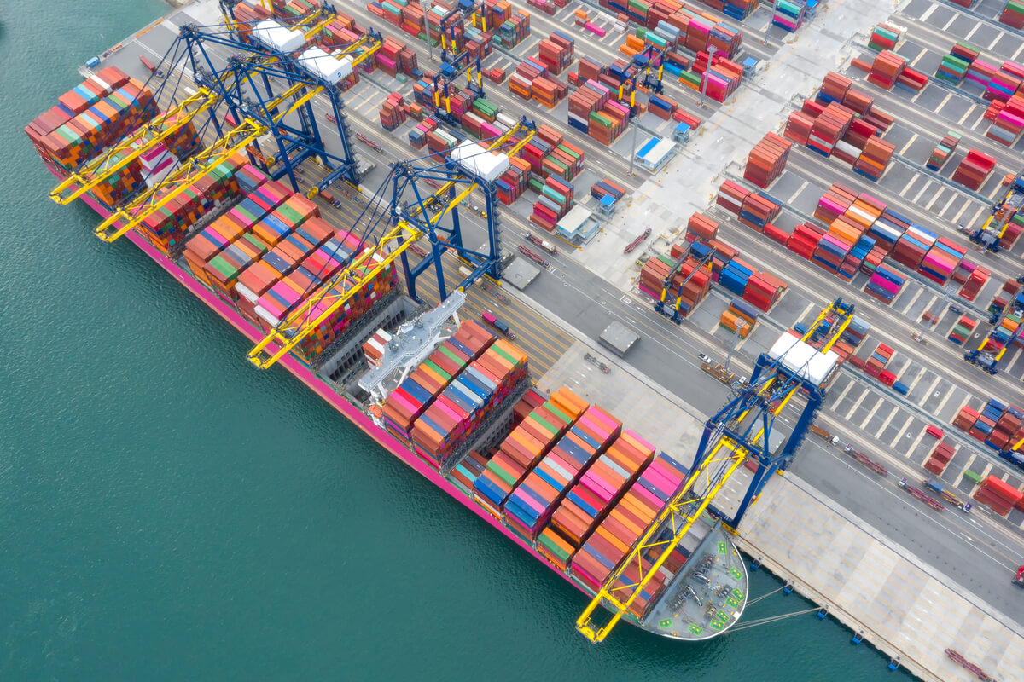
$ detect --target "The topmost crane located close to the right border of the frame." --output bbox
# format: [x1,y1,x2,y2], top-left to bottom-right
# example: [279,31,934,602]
[972,169,1024,252]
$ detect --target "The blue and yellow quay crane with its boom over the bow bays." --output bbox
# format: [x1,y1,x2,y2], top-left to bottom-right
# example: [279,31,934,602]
[571,290,857,649]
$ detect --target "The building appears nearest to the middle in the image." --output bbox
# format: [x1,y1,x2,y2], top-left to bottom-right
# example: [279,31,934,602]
[556,205,595,245]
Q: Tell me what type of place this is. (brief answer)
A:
port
